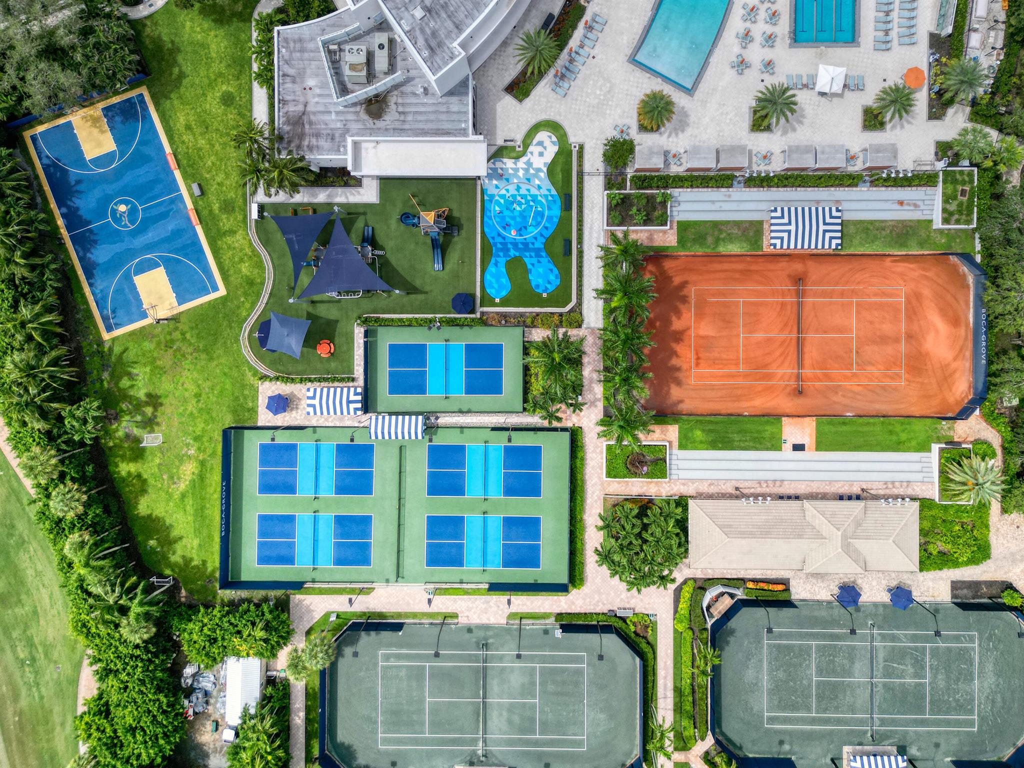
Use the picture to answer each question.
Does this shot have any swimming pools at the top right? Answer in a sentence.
Yes, I can see a swimming pool at the top right.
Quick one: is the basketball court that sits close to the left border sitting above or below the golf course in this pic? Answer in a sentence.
It's above the golf course that the basketball court that sits close to the left border shows up.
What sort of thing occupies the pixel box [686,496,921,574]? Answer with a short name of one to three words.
building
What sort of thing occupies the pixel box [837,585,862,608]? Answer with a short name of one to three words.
umbrella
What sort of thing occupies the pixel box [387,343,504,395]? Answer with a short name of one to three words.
sports court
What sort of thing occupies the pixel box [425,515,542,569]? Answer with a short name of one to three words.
sports court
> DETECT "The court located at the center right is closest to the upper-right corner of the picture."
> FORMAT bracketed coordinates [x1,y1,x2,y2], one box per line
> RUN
[641,254,973,416]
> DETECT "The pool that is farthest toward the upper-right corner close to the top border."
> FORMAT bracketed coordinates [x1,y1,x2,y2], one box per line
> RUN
[789,0,861,48]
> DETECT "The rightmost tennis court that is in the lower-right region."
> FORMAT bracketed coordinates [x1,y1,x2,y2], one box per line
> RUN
[716,598,1024,768]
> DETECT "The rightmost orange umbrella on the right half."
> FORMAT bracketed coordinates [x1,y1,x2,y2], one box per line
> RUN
[901,66,926,88]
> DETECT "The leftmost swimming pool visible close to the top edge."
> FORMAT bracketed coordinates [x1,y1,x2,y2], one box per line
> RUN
[628,0,734,97]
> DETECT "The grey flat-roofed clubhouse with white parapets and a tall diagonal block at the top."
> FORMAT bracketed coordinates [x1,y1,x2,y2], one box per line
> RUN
[275,0,531,180]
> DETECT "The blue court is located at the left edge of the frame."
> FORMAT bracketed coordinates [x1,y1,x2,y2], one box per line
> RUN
[24,85,226,340]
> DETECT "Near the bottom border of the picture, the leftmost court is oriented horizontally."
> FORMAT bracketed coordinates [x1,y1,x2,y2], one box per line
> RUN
[327,623,639,768]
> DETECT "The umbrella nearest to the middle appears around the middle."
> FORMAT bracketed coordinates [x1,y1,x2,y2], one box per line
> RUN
[452,292,473,314]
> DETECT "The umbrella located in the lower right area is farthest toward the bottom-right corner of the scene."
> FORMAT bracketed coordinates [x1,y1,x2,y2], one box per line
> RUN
[888,586,914,611]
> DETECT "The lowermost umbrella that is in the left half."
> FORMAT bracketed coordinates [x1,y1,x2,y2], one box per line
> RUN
[265,392,289,416]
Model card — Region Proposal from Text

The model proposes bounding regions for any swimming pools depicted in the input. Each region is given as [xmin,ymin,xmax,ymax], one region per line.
[628,0,734,97]
[789,0,861,48]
